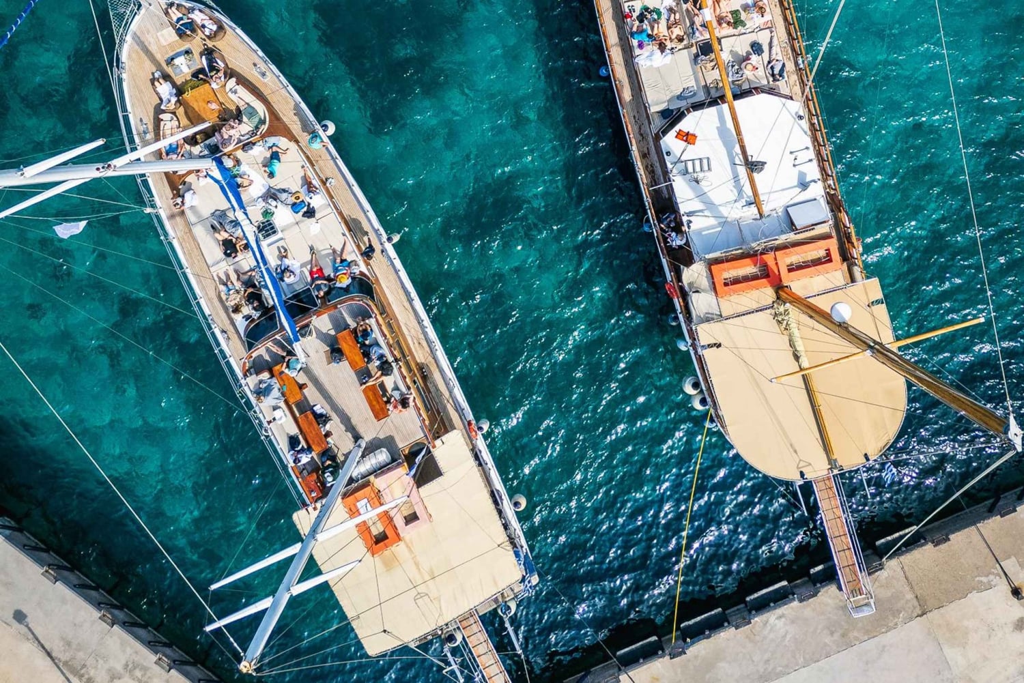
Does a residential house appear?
No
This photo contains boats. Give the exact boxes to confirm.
[594,0,1024,561]
[0,0,537,671]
